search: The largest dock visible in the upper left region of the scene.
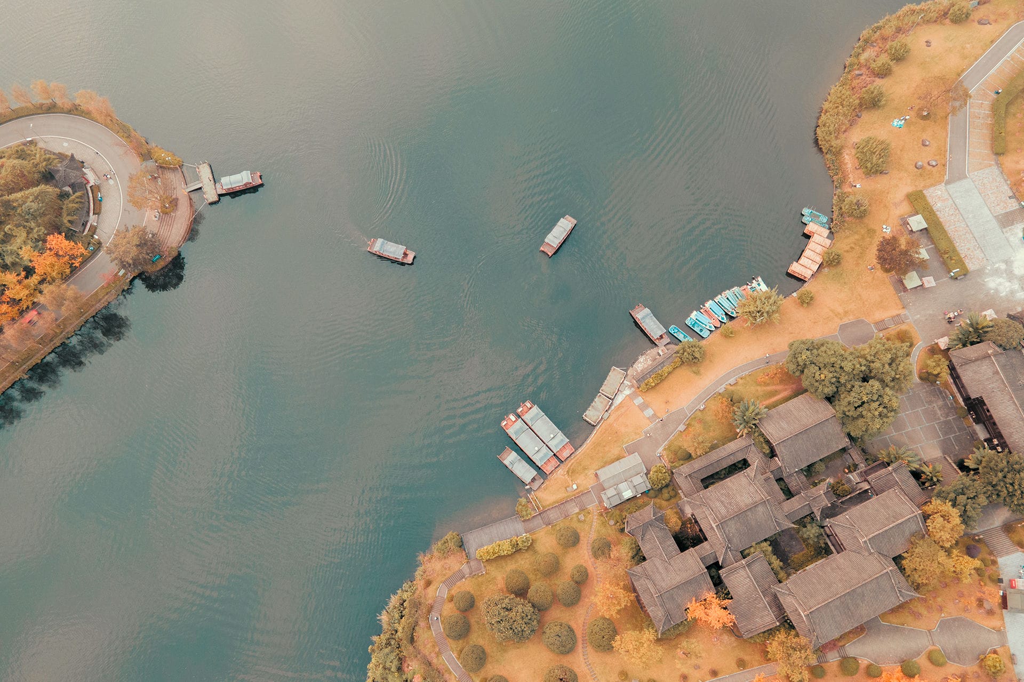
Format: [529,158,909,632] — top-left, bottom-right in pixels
[195,160,219,205]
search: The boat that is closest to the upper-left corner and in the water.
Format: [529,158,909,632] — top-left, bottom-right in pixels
[215,168,262,192]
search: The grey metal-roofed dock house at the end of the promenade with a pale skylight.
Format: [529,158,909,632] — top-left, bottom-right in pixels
[595,453,651,508]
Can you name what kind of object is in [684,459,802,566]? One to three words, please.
building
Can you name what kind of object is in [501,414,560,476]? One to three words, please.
boat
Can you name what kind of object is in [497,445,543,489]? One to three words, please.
boat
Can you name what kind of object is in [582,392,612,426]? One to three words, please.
pier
